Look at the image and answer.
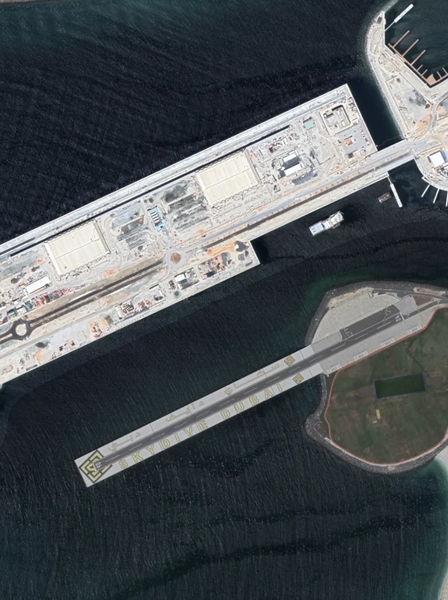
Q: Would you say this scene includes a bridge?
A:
Yes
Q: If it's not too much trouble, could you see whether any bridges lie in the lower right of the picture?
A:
No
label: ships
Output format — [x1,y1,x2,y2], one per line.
[309,211,344,235]
[378,192,391,203]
